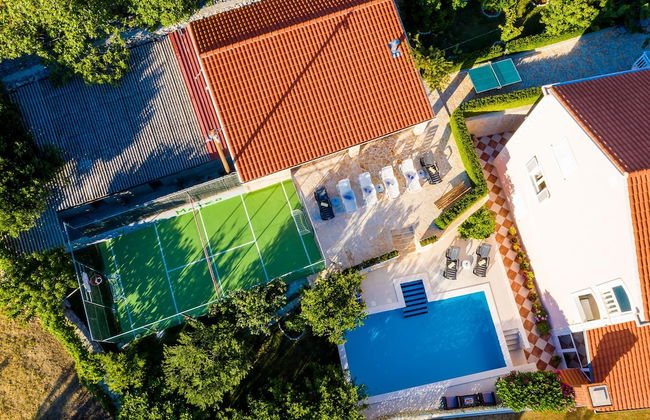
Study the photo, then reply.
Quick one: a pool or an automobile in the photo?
pool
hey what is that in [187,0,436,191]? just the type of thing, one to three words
house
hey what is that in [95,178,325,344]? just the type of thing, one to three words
sports court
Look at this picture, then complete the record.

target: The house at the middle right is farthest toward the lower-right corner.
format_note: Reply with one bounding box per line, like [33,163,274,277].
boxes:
[491,65,650,414]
